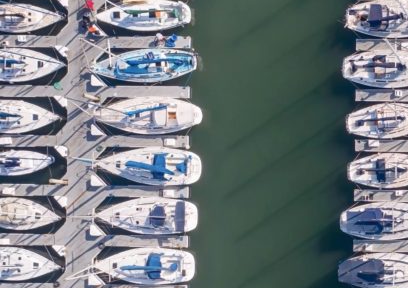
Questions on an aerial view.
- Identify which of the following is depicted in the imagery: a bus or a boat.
boat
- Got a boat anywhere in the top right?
Yes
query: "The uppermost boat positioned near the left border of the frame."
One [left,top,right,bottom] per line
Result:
[0,0,84,35]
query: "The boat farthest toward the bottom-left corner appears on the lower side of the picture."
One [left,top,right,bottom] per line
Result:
[0,246,67,284]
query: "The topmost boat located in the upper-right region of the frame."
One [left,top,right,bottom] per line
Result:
[344,0,408,41]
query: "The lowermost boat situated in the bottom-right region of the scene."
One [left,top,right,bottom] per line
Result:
[338,247,408,288]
